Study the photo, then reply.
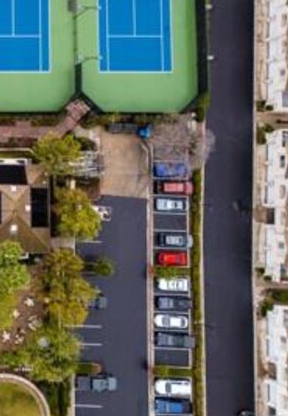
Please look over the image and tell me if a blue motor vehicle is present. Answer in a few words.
Yes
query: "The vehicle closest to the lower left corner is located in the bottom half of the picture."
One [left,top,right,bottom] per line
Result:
[78,376,117,394]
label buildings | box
[0,164,51,255]
[260,0,288,107]
[260,312,288,416]
[260,129,288,279]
